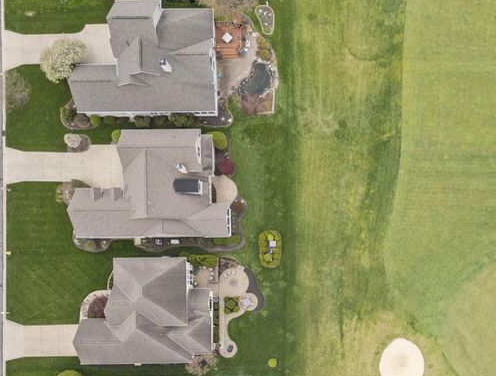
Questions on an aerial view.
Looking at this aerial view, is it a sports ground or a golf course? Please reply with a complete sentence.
The picture captures a golf course.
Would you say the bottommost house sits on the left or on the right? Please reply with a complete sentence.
The bottommost house appears in the left half of the scene.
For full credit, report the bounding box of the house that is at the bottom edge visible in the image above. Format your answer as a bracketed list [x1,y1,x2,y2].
[73,257,213,367]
